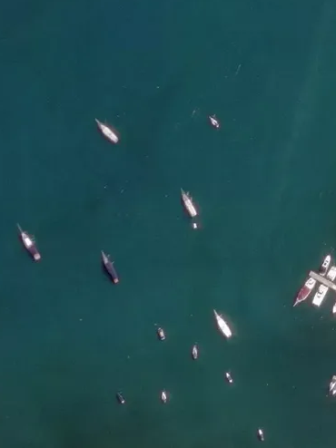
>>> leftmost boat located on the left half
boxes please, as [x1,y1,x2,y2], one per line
[19,226,40,260]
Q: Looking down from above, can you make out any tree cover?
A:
No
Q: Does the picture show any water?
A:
Yes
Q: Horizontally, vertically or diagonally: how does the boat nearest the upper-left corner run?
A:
diagonally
